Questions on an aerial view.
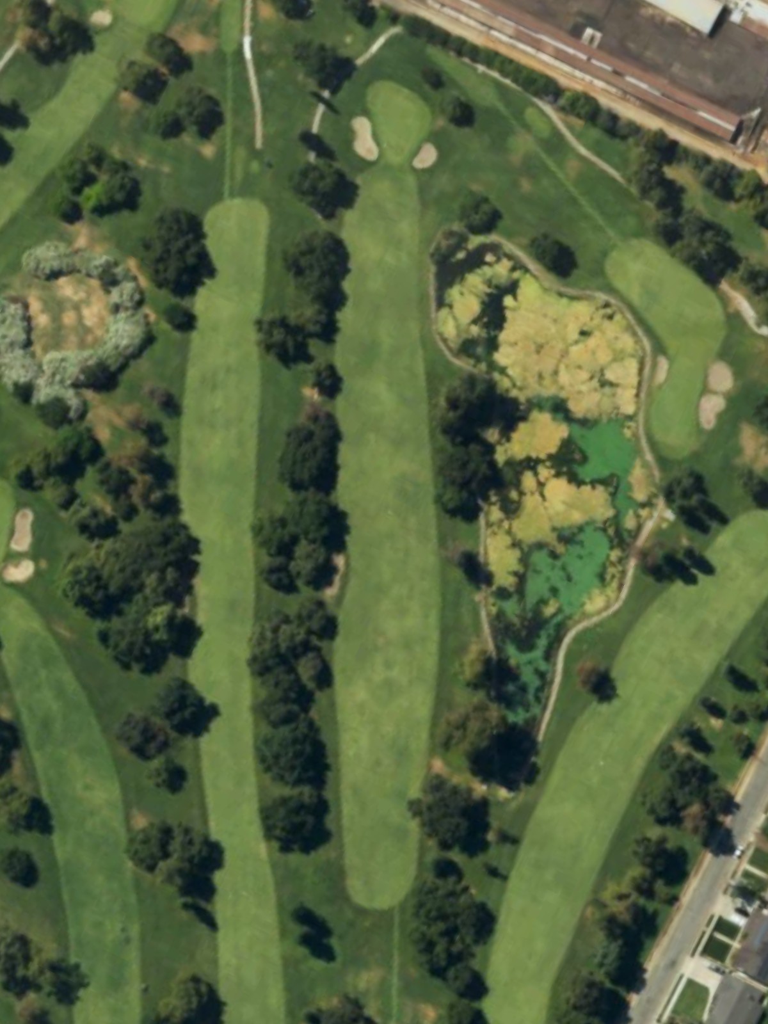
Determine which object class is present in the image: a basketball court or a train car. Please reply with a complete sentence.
The image shows a train car.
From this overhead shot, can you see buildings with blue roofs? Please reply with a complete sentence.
No, I can't see a single building with a blue roof in this photo.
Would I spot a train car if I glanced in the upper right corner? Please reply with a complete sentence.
Yes, I can see a train car in the upper right corner.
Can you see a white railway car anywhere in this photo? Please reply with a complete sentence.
Yes, there's a white railway car here.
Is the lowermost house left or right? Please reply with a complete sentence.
The lowermost house is on the right side of the image.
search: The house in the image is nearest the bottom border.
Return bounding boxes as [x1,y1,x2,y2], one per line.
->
[702,974,765,1024]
